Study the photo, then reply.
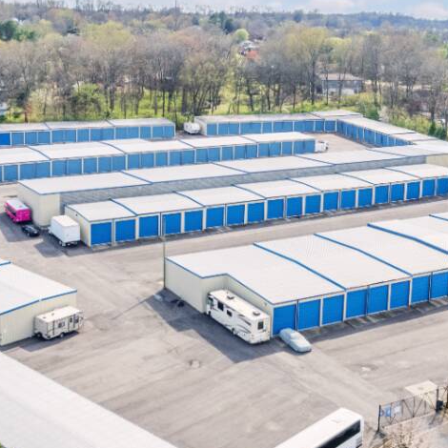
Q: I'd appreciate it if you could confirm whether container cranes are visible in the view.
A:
No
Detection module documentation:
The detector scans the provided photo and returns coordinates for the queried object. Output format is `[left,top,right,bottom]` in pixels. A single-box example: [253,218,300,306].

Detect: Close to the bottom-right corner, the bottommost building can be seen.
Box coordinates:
[403,381,437,408]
